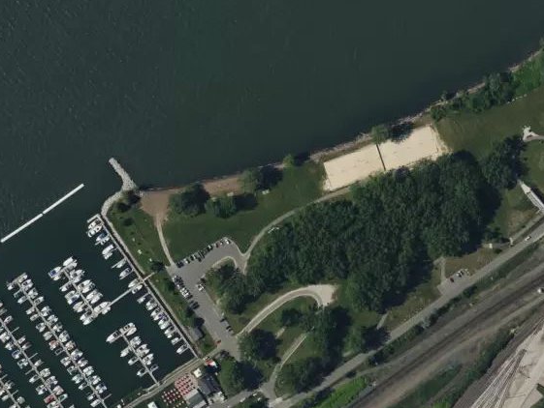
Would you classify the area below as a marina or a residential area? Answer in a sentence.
The picture captures a marina.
